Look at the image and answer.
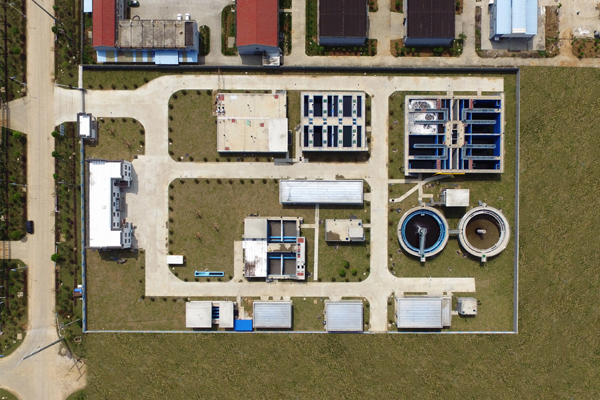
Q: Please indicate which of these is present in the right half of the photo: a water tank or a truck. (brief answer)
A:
water tank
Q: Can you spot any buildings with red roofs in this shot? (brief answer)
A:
Yes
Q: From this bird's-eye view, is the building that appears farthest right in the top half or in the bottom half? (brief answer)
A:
top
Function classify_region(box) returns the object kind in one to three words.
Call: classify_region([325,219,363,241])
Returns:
shed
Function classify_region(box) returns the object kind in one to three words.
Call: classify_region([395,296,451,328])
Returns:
building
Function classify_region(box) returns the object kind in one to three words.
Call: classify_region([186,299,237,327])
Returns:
house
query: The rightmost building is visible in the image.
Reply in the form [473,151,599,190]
[490,0,537,42]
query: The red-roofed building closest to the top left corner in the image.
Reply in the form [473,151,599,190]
[93,0,122,50]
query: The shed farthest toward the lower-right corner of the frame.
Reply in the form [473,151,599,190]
[455,297,478,315]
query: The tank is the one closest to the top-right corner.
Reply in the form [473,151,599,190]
[404,95,506,176]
